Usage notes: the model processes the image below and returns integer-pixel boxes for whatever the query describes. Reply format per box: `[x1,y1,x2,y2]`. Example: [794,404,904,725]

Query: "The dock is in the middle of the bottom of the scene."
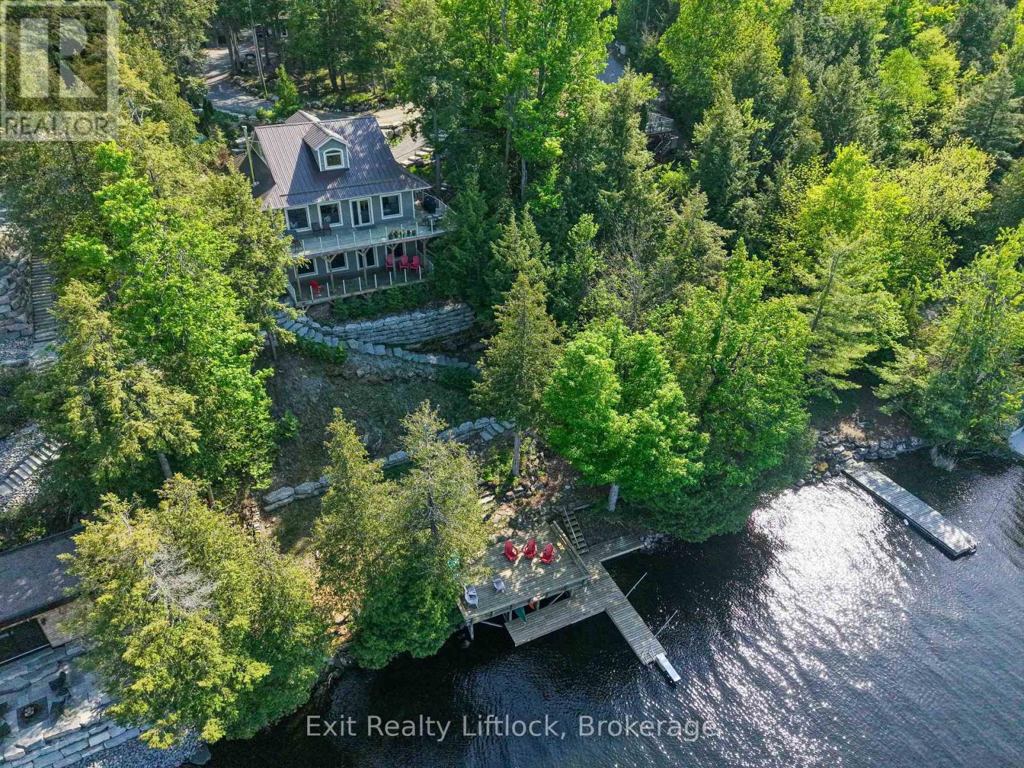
[503,533,671,669]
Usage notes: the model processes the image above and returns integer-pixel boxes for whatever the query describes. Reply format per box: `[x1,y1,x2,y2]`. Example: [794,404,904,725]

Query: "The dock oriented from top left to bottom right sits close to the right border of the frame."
[844,465,980,562]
